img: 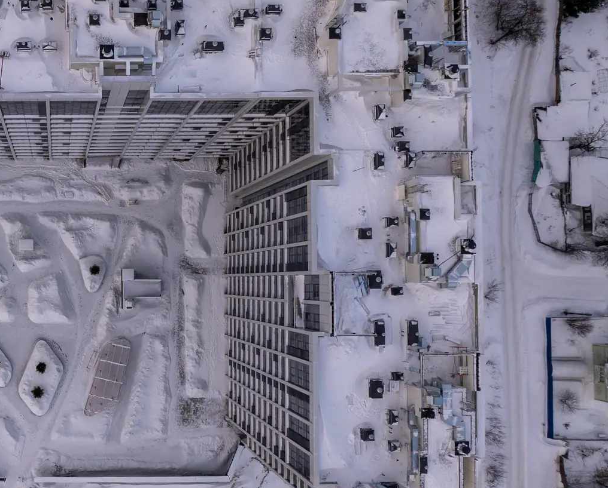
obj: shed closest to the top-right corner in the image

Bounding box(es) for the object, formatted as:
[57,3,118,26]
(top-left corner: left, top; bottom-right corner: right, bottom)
[555,71,591,101]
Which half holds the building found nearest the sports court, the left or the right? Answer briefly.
left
